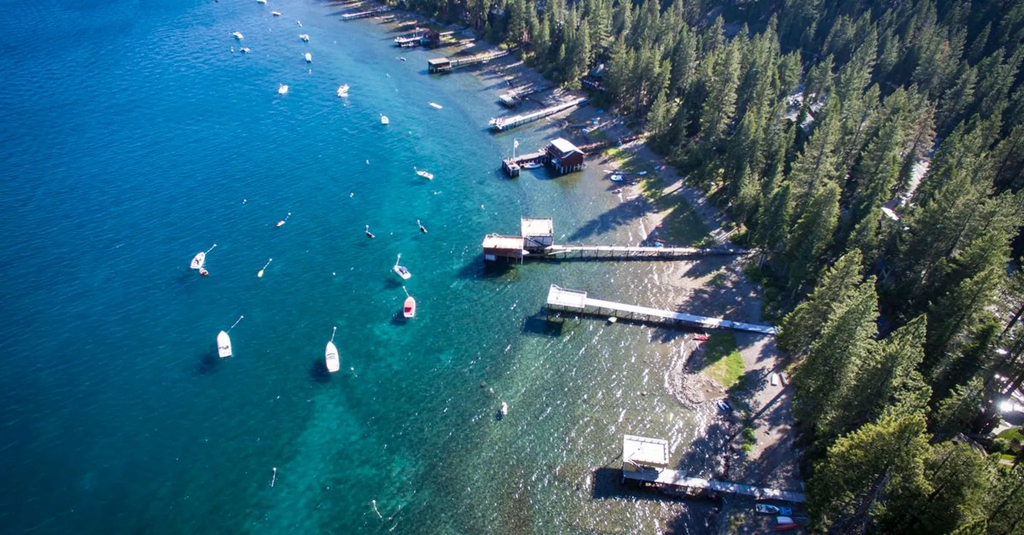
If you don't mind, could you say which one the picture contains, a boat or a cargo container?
boat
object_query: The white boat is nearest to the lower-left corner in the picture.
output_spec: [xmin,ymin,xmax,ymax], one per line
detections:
[216,329,232,361]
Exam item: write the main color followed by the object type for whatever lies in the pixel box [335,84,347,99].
white boat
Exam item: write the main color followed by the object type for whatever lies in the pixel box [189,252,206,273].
white boat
